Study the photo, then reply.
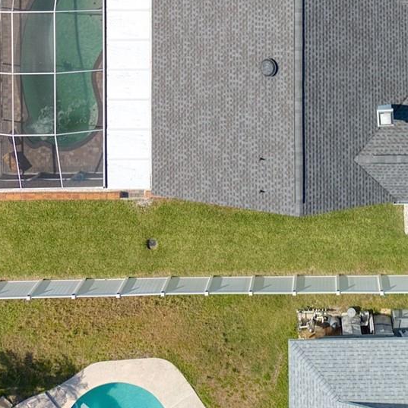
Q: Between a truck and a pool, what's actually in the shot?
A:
pool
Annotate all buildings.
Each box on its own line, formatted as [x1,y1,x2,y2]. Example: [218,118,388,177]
[286,334,408,408]
[147,0,408,216]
